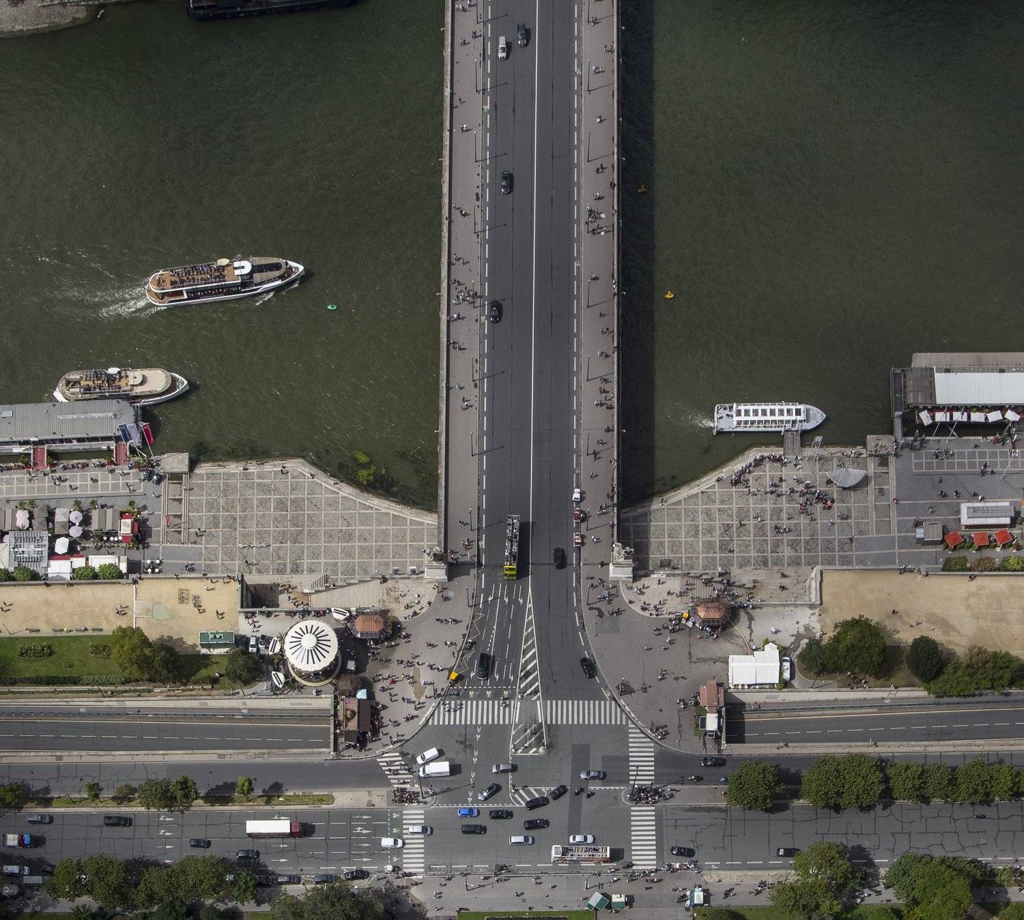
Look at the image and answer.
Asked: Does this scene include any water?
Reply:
Yes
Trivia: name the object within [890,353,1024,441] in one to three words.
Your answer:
pier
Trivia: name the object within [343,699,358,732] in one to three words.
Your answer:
shed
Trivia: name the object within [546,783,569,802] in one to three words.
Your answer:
car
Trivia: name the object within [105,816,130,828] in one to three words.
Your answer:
vehicle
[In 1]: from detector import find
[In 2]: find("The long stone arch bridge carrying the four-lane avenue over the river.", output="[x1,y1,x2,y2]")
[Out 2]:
[438,0,621,700]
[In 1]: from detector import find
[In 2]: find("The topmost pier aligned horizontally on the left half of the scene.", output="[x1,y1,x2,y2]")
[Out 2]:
[0,398,141,456]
